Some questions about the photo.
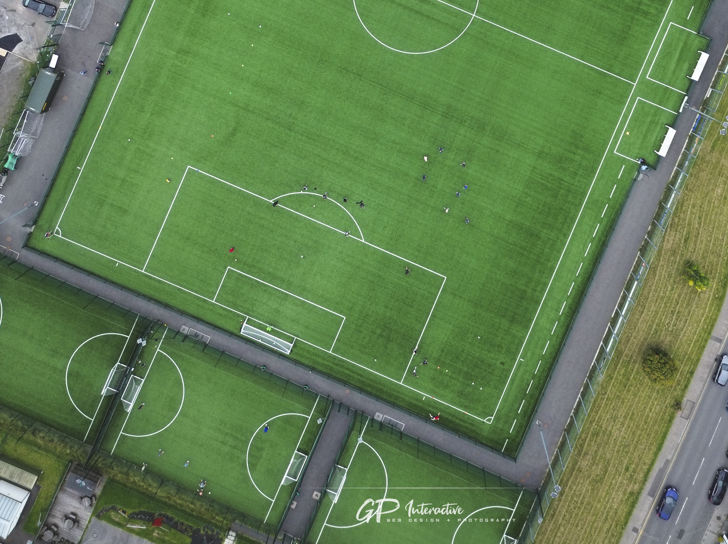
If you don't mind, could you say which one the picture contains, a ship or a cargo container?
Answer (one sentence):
The image shows a cargo container.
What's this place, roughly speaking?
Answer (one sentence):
This image shows a sports ground.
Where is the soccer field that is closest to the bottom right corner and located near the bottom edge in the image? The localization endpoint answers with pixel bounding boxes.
[304,419,533,544]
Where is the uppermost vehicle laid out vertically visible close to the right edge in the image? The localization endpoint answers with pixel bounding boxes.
[713,353,728,387]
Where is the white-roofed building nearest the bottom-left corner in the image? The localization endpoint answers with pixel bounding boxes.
[0,480,31,543]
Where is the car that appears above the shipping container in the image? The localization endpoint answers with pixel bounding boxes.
[22,0,57,17]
